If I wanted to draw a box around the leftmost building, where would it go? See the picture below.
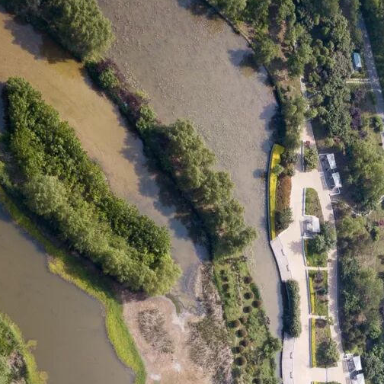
[302,215,320,238]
